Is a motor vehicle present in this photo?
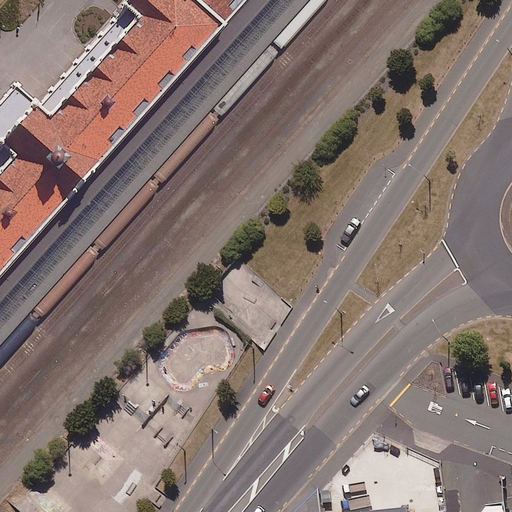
Yes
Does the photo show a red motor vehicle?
Yes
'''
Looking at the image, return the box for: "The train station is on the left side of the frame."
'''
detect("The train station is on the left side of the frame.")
[0,0,311,348]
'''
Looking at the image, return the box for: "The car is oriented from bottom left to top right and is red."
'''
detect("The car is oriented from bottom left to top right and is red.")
[256,382,276,406]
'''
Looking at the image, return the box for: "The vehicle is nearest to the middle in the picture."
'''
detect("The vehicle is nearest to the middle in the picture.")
[338,217,362,246]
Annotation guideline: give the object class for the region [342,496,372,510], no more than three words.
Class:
vehicle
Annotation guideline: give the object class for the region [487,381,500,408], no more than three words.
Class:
vehicle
